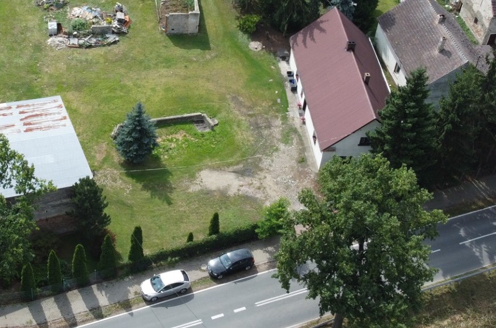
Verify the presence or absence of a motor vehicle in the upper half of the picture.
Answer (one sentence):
No, the scene shows no motor vehicle in the upper half of the picture.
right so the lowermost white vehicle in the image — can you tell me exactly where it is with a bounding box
[139,266,192,300]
